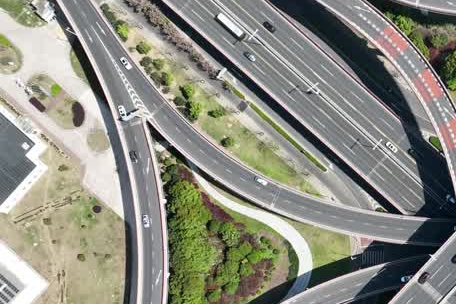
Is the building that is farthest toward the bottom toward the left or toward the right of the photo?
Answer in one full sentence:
The building that is farthest toward the bottom appears in the left half of the scene.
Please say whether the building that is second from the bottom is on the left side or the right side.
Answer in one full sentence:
The building that is second from the bottom sits on the left side.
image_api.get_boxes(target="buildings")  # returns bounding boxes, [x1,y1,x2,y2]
[0,101,49,219]
[0,238,49,304]
[34,0,64,23]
